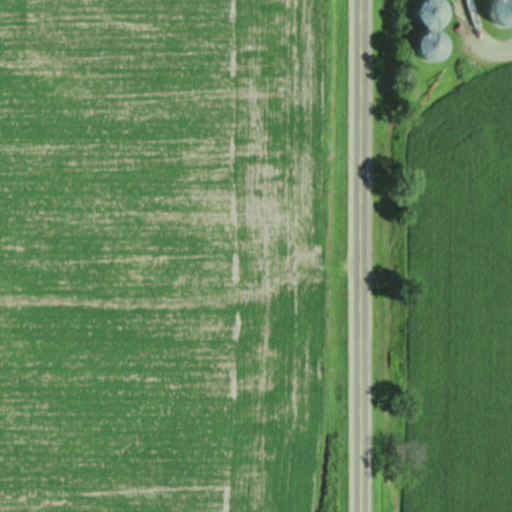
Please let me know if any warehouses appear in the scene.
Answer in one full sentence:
No, I can't see a single warehouse in this photo.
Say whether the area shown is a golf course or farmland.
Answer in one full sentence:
This image shows farmland.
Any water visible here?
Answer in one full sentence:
No, no water is visible.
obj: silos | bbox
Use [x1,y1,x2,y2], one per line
[488,0,512,30]
[414,31,452,66]
[414,0,452,33]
